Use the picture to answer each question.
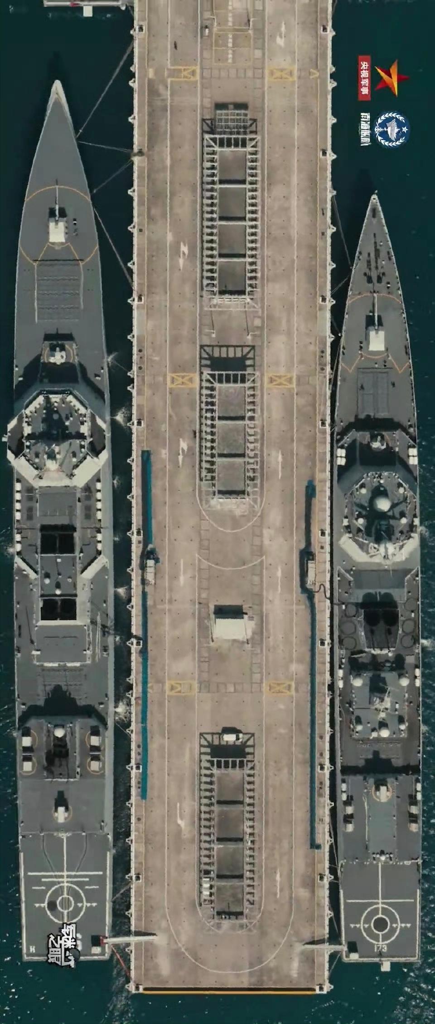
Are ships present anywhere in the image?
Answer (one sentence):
Yes, there's a ship here.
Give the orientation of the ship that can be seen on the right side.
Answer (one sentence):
The ship that can be seen on the right side runs from top to bottom in the image.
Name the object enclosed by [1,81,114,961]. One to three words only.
ship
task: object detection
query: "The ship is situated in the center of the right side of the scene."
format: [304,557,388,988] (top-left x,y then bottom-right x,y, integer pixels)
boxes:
[334,190,426,970]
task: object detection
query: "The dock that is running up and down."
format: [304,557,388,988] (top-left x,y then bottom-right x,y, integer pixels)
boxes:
[131,0,332,993]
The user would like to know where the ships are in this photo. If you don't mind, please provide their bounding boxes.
[44,0,134,18]
[334,190,426,970]
[1,81,114,961]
